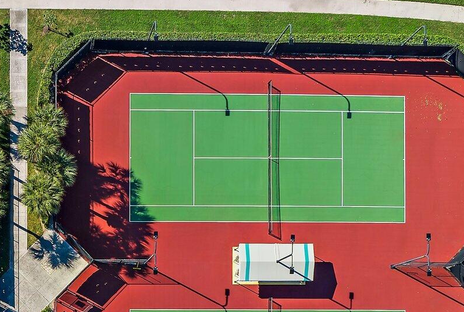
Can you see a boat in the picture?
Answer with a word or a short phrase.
No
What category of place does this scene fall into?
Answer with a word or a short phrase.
sports ground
